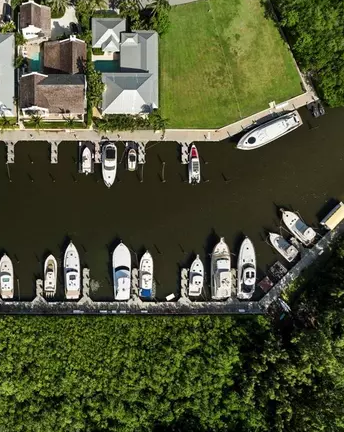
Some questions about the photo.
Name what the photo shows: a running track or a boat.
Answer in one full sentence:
I can see a boat in this picture.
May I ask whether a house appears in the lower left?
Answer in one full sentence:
No, no house can be made out in the lower left.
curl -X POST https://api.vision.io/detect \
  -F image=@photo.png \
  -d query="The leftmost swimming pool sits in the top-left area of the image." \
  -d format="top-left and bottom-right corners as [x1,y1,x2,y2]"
[30,52,44,70]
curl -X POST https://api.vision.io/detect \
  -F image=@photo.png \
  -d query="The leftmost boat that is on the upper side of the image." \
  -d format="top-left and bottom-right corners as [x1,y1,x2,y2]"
[77,147,96,179]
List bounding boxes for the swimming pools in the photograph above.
[92,60,120,73]
[30,52,44,70]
